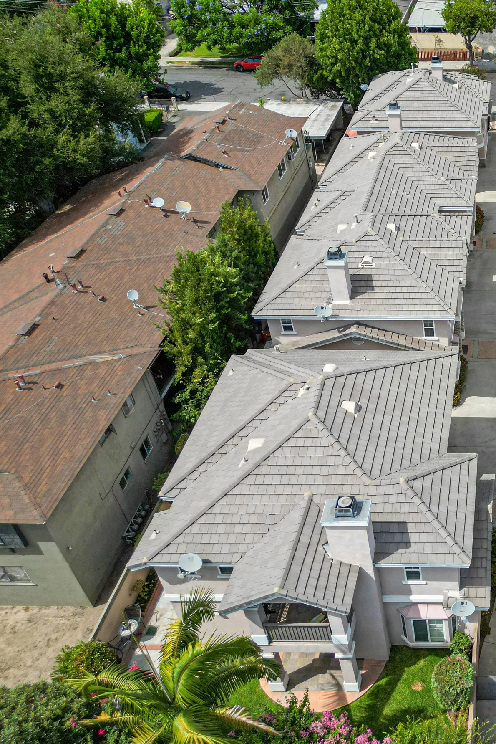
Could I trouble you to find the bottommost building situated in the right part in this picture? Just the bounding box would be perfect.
[129,344,495,693]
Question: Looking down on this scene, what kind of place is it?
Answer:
residential area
